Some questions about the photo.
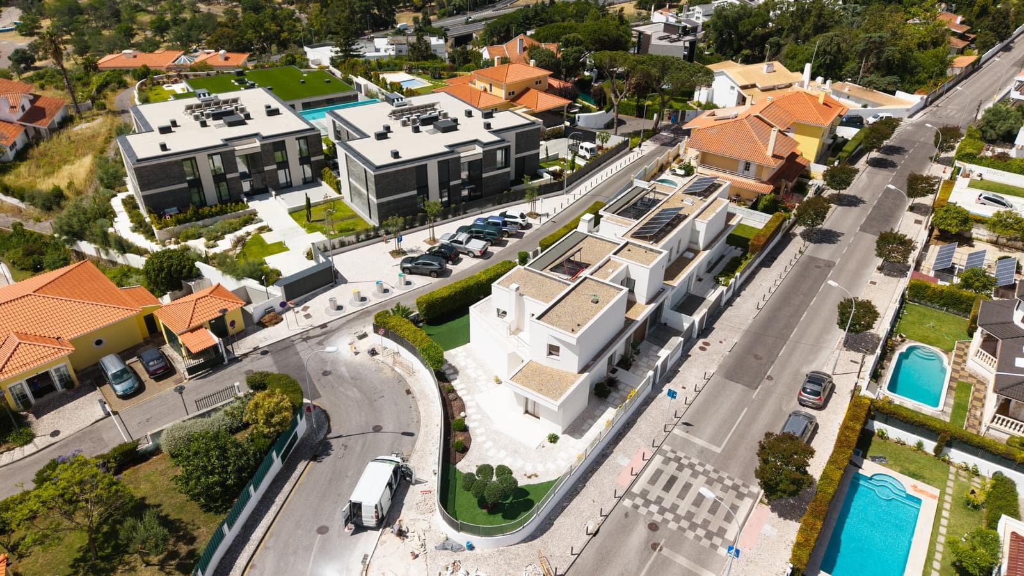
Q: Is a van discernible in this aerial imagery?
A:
Yes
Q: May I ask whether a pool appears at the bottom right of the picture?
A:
Yes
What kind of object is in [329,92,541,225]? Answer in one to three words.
building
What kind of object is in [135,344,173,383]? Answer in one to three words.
car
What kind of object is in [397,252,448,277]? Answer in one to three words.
car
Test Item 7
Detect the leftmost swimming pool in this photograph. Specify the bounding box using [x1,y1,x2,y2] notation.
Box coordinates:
[296,97,384,130]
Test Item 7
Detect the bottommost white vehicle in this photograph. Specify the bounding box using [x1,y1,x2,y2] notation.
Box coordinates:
[341,455,403,532]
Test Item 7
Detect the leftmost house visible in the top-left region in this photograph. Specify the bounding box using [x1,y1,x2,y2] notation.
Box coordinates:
[0,80,67,157]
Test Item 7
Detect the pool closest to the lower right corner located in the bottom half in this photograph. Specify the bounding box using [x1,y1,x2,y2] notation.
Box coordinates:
[814,466,928,576]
